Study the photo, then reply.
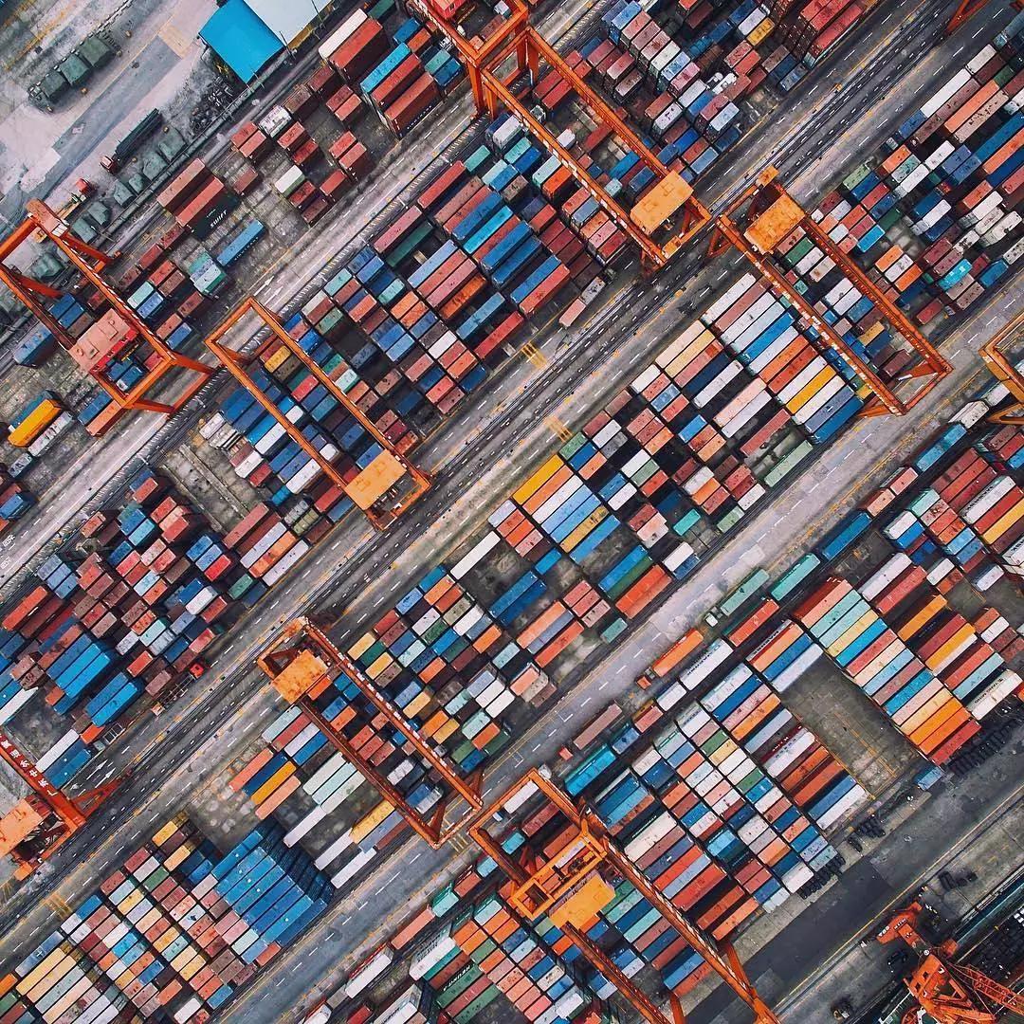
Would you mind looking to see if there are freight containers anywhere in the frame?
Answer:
Yes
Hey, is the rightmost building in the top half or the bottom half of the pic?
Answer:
top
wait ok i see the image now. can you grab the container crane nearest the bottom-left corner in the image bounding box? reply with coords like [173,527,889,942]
[0,706,135,884]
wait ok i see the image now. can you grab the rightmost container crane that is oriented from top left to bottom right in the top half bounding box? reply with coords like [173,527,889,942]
[695,171,956,423]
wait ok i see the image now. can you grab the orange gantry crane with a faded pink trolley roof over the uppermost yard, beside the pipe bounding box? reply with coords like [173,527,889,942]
[0,193,221,417]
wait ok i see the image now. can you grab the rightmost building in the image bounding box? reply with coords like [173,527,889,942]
[245,0,346,52]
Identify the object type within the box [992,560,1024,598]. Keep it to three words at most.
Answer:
shipping container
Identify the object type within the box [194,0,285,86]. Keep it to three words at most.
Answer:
shed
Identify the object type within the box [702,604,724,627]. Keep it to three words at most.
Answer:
truck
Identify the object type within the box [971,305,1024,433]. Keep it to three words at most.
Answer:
container crane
